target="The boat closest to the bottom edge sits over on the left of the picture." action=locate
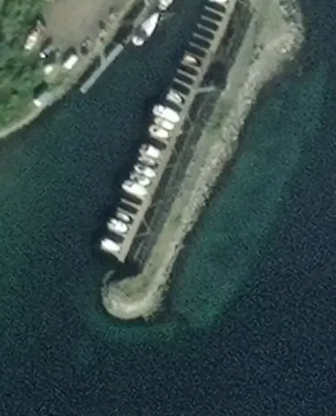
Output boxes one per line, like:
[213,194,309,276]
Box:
[98,237,121,251]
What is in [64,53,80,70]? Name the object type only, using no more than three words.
camper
